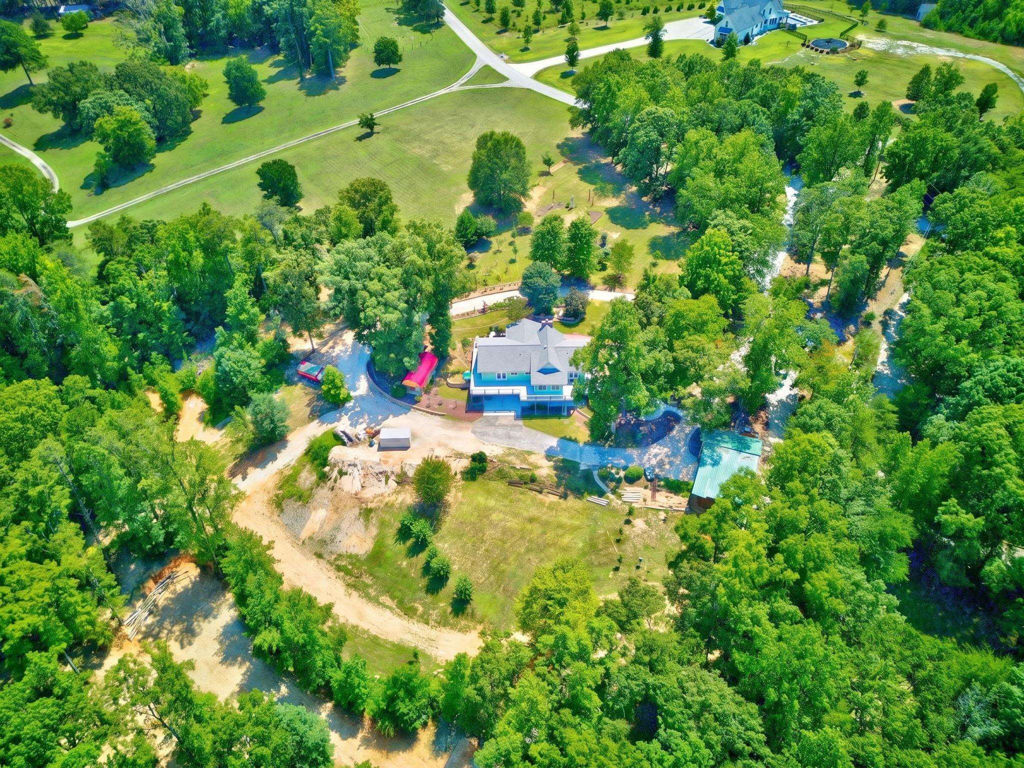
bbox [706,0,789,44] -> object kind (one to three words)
house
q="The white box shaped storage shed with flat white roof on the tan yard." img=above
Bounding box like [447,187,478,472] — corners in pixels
[378,428,412,448]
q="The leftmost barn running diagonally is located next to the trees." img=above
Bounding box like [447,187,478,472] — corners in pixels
[402,347,442,396]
